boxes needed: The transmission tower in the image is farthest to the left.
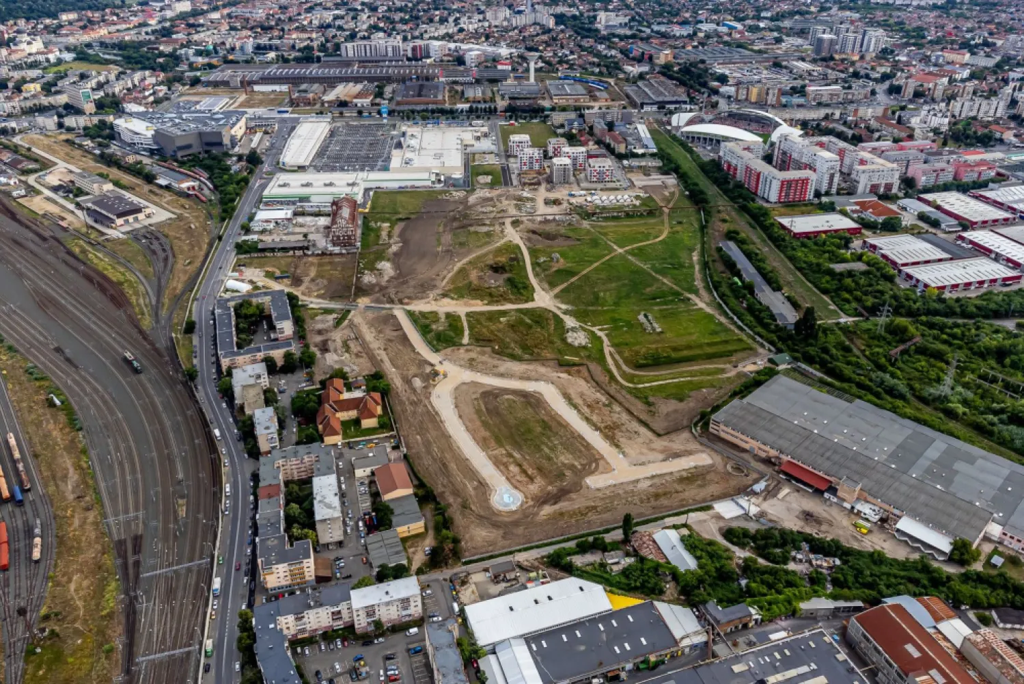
[874,301,894,335]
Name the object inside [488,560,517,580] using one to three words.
shed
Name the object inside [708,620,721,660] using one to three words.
chimney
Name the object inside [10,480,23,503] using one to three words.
rail car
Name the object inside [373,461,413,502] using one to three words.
building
